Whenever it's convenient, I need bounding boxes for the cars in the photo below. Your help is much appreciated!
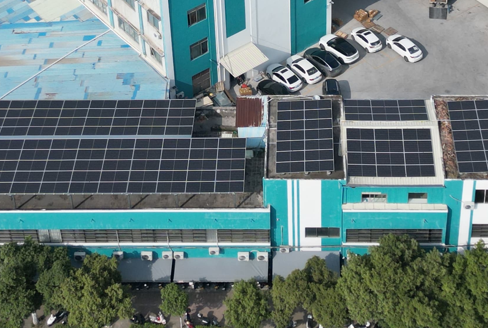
[384,34,424,64]
[284,52,322,83]
[255,78,296,97]
[264,61,306,92]
[318,34,359,65]
[322,81,343,95]
[301,46,343,77]
[348,26,385,54]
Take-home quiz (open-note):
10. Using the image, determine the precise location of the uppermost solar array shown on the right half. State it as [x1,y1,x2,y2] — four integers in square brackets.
[344,98,429,117]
